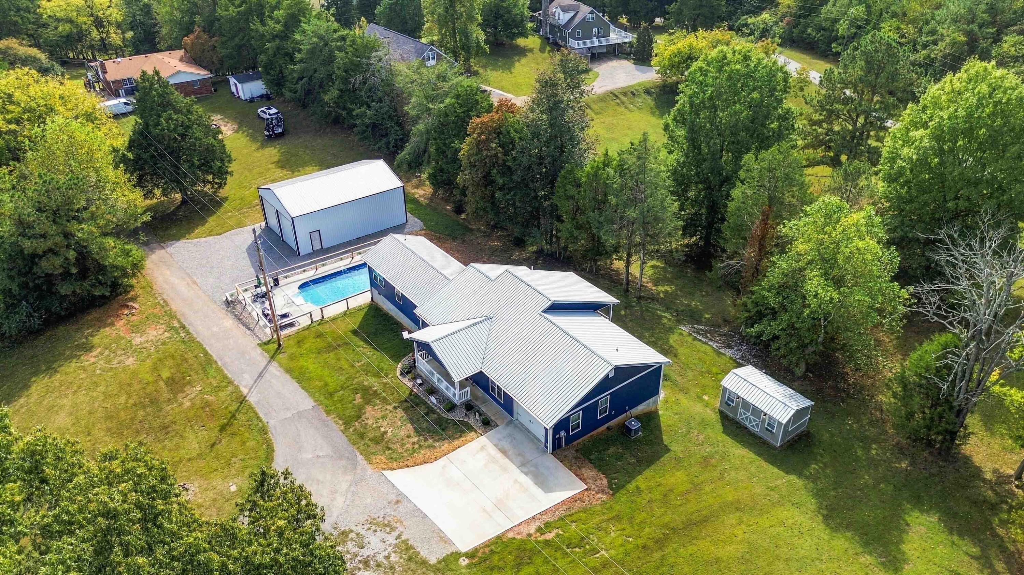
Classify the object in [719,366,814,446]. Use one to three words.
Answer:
shed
